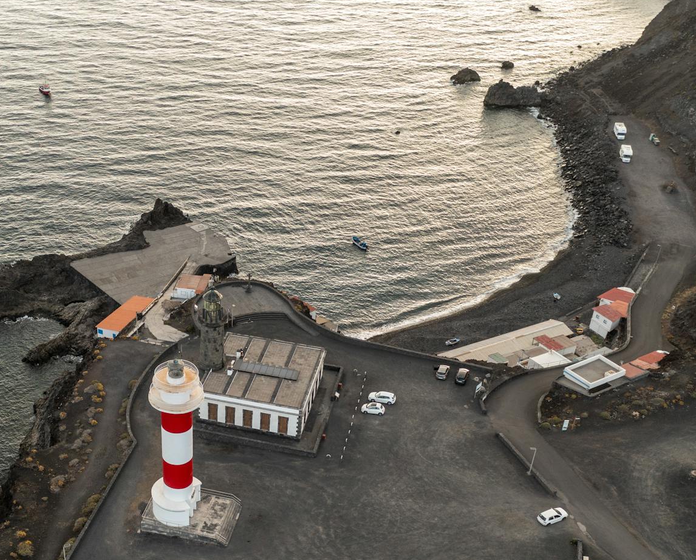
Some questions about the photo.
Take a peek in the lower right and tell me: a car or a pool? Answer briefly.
car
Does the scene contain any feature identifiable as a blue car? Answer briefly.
No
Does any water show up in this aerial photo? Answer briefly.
Yes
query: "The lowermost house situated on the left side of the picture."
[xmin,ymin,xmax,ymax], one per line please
[197,334,325,437]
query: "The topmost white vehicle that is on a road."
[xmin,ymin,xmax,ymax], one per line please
[616,120,628,138]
